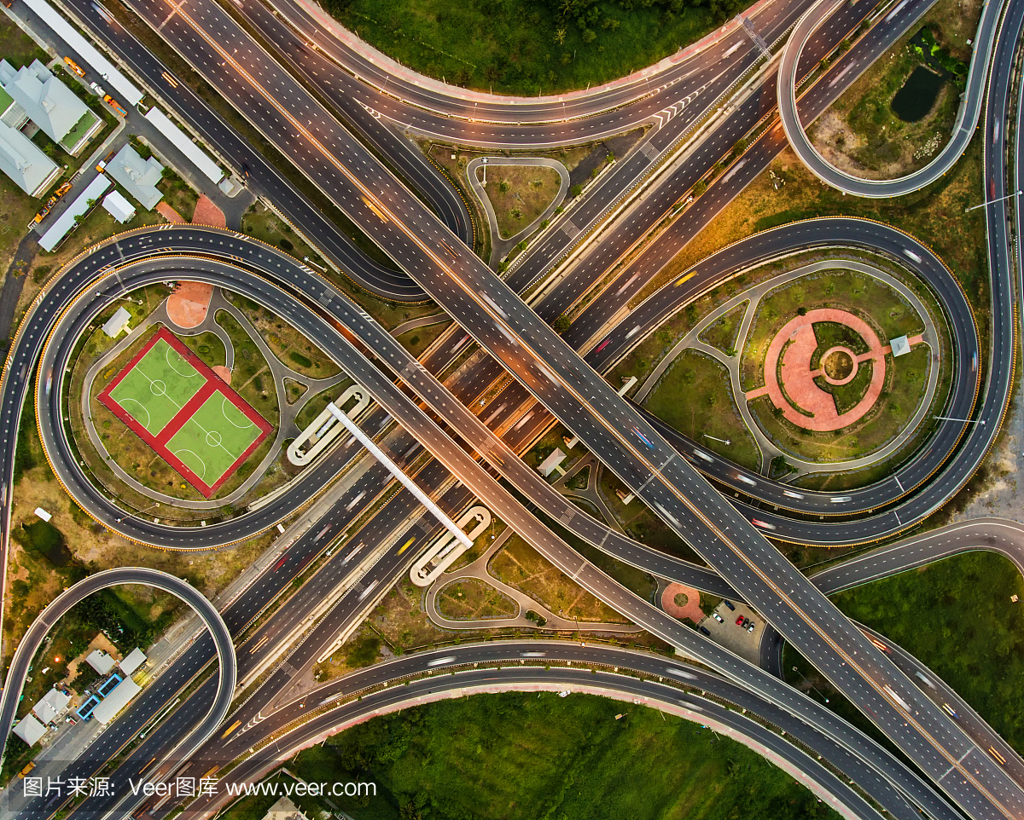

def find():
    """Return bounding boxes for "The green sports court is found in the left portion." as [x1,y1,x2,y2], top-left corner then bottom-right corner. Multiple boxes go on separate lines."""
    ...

[96,328,273,498]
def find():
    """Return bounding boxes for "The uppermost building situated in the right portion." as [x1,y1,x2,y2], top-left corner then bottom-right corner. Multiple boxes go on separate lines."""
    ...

[886,335,910,357]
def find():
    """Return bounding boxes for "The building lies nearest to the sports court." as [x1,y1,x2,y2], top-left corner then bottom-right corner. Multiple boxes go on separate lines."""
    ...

[102,307,134,337]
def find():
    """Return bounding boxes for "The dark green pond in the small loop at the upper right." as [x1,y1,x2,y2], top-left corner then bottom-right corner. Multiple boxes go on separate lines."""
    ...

[892,65,949,122]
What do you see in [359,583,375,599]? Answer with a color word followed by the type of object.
white vehicle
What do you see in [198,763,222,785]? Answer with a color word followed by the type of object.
orange bus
